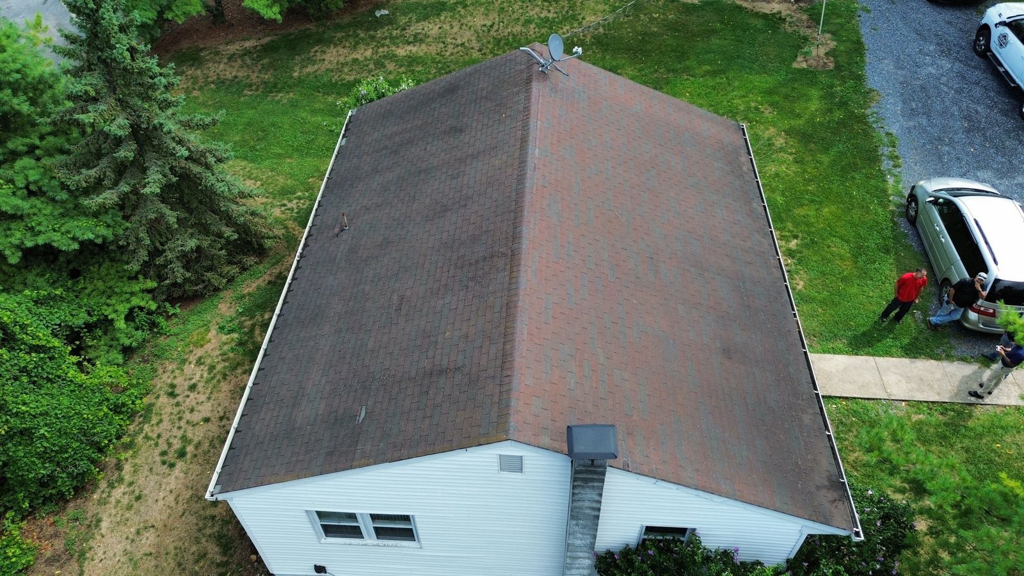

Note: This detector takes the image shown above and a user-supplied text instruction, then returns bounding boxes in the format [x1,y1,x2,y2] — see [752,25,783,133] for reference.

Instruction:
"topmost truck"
[979,16,1024,115]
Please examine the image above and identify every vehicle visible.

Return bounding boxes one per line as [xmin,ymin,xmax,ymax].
[979,16,1024,115]
[912,175,1024,323]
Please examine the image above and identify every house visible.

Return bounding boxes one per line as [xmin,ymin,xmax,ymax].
[204,42,861,576]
